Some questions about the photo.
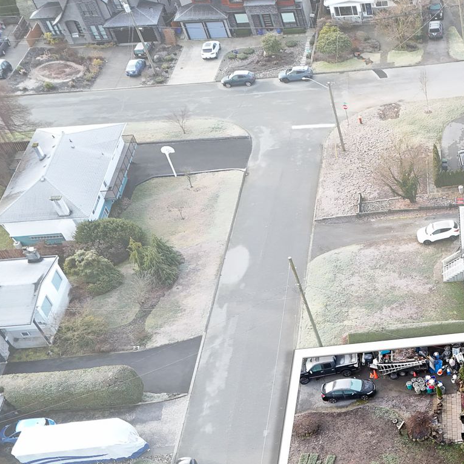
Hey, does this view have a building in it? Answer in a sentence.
Yes, the photo shows a building.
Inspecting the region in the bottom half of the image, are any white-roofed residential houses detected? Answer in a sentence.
Yes, in the bottom half of the image there is a white-roofed residential house.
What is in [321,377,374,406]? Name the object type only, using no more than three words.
car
